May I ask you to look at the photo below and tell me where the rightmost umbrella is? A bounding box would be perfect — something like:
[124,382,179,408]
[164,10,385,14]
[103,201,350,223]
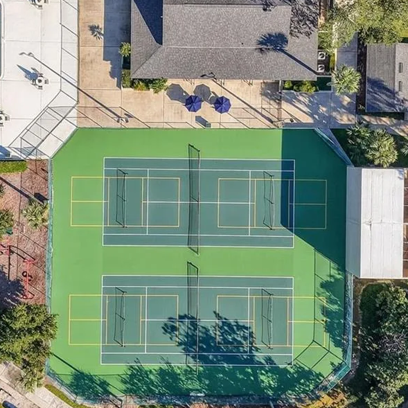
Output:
[214,95,232,114]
